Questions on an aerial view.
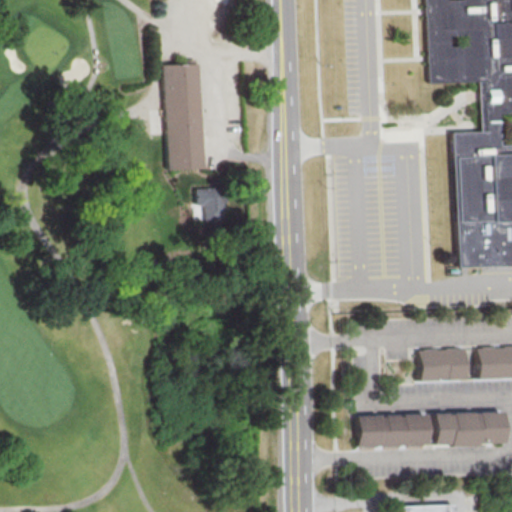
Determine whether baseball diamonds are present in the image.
No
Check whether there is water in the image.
No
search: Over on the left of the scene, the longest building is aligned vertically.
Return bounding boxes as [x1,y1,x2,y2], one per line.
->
[164,64,204,172]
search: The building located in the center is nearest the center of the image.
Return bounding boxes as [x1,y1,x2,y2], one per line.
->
[190,188,230,221]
